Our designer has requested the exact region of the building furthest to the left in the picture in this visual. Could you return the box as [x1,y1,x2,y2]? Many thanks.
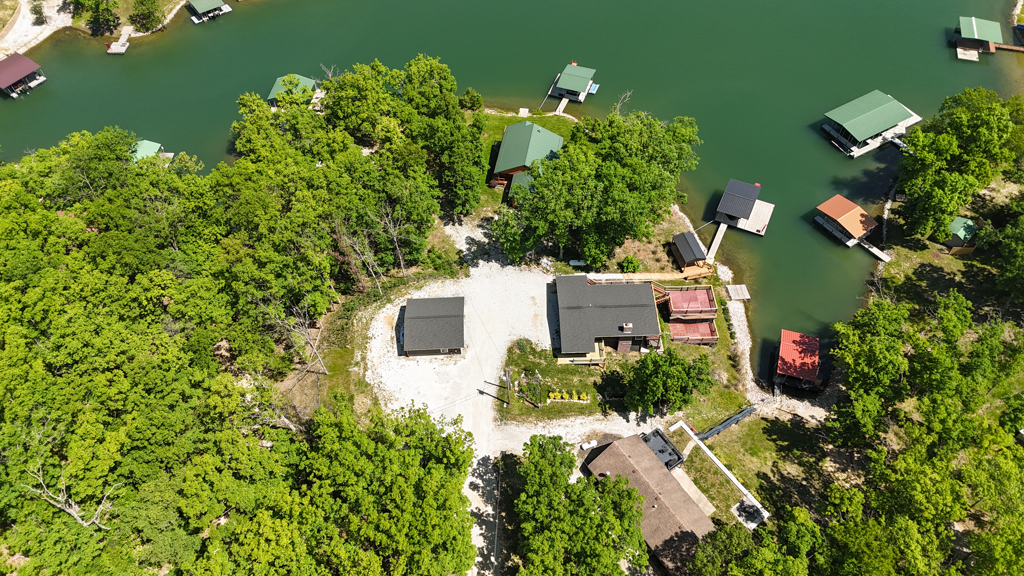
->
[404,298,465,356]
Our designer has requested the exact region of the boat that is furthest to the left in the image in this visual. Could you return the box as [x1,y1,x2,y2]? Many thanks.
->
[10,81,32,94]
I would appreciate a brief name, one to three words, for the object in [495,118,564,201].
house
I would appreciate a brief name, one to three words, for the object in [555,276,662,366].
house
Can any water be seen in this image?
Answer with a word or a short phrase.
Yes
